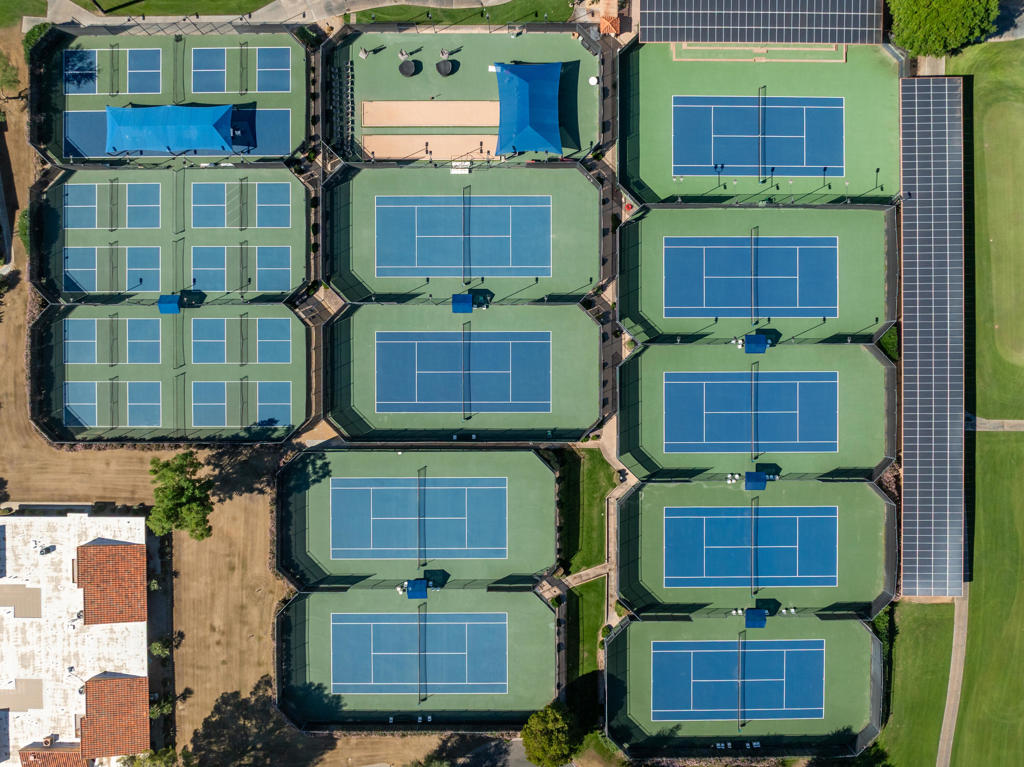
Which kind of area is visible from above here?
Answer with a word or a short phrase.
sports ground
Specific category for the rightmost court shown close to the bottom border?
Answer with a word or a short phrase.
tennis court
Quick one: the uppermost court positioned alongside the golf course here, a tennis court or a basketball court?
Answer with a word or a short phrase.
tennis court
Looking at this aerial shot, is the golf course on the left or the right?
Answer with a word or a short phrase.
right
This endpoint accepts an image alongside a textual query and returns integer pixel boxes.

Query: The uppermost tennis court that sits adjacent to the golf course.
[618,40,899,206]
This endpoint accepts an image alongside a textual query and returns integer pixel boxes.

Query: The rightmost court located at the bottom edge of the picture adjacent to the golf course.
[605,612,870,747]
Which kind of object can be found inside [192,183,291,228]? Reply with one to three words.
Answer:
sports court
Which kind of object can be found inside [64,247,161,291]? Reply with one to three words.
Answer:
sports court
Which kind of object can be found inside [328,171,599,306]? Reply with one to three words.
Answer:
tennis court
